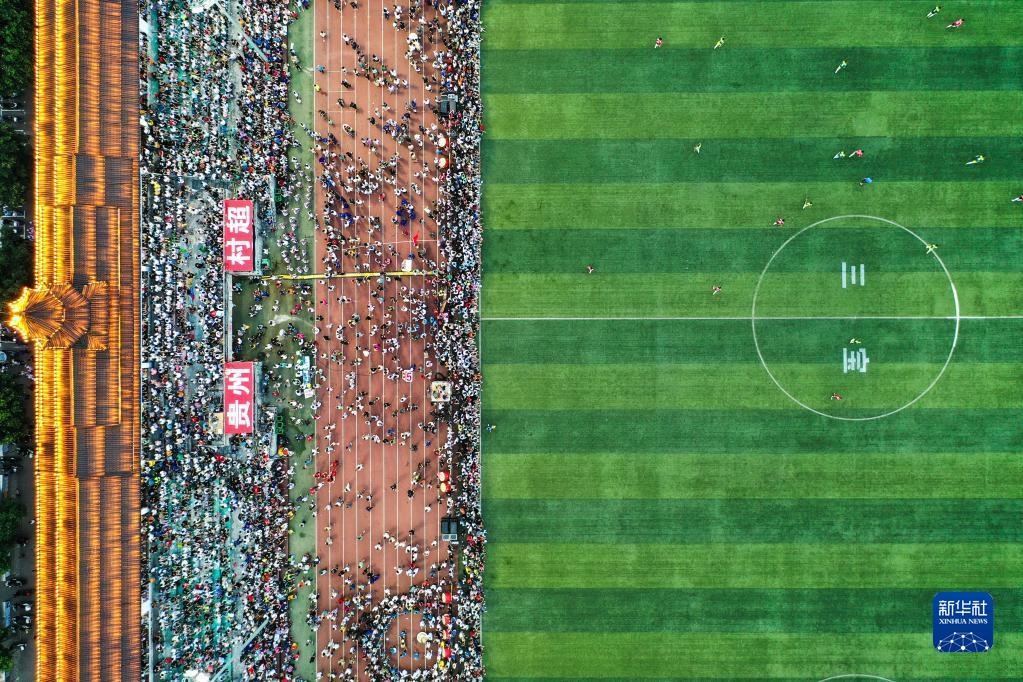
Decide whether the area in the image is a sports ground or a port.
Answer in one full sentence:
What you see here is a sports ground.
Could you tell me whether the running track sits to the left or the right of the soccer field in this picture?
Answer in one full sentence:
Compared with the soccer field, the running track is located further to the left.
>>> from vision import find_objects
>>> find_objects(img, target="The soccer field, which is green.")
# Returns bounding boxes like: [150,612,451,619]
[481,0,1023,682]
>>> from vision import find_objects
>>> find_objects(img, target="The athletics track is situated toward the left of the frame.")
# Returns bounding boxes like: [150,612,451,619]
[314,0,456,682]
